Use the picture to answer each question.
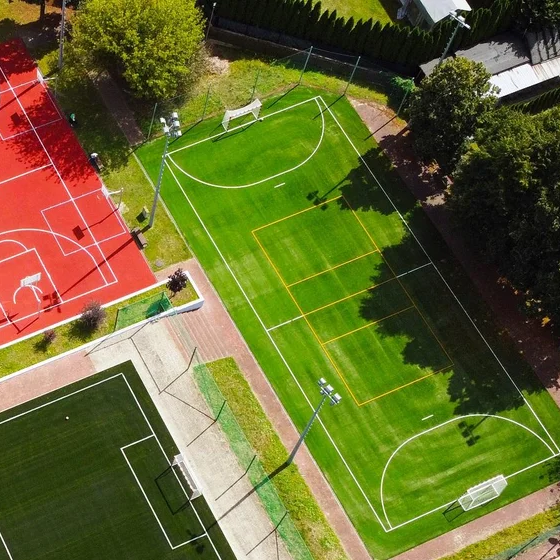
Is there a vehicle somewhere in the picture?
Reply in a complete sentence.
No, there is no vehicle in the image.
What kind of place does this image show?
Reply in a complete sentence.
It's a sports ground.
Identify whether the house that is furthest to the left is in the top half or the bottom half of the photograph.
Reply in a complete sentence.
Seen from above, the house that is furthest to the left lies in the top half of the view.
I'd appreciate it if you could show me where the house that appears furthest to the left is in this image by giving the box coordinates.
[389,0,472,47]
